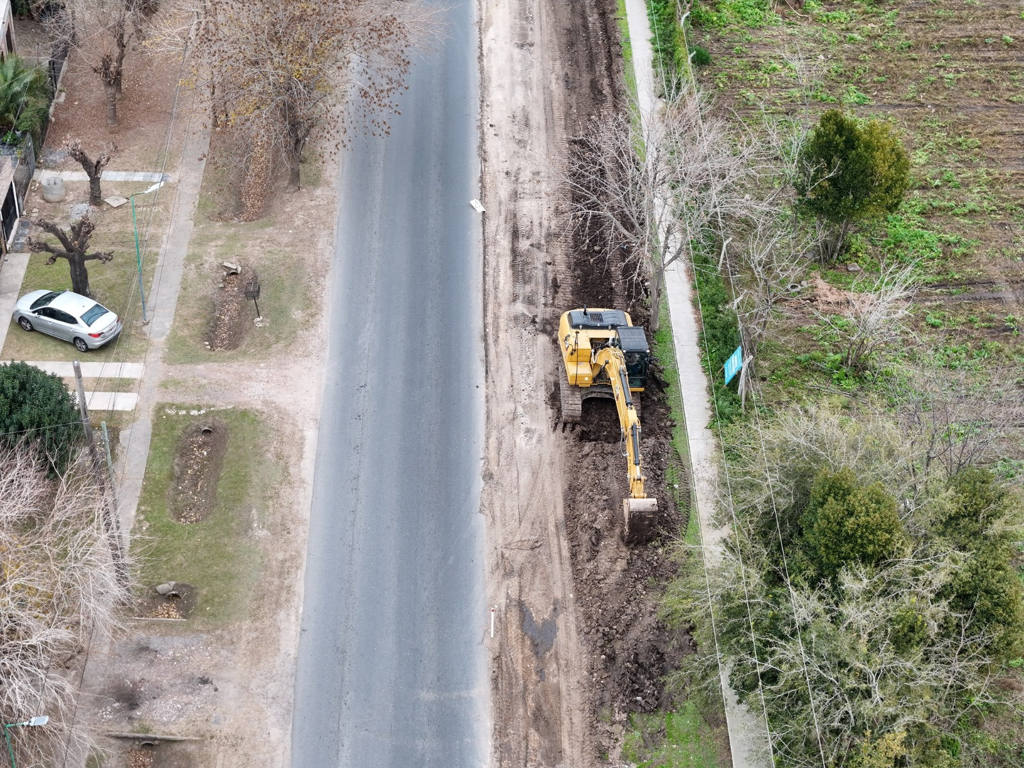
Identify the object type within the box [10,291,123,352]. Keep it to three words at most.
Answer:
car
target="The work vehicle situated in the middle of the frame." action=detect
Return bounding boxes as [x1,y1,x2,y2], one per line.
[558,306,659,544]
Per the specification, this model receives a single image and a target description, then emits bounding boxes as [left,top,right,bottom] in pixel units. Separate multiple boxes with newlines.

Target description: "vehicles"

[10,291,123,352]
[558,306,659,544]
